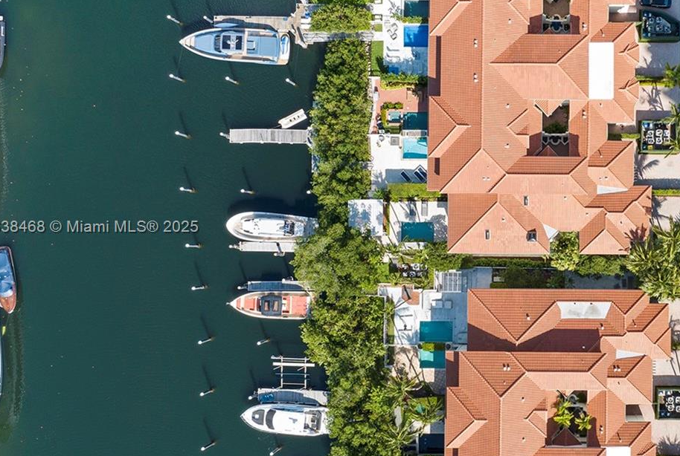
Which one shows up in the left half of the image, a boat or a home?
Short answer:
boat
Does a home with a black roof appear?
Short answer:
No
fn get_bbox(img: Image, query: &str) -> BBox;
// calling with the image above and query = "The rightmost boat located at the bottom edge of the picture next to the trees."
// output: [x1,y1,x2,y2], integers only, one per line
[239,405,336,436]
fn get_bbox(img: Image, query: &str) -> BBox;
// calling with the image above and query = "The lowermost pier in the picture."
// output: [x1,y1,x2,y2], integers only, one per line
[258,386,335,405]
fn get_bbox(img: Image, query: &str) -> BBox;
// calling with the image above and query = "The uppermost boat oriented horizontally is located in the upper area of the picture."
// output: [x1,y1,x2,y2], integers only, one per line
[177,23,293,62]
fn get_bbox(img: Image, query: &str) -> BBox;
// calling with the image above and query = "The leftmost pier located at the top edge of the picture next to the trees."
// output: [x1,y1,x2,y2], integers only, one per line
[214,2,307,44]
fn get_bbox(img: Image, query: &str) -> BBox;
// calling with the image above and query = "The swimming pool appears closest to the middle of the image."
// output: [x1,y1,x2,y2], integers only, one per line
[400,220,436,243]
